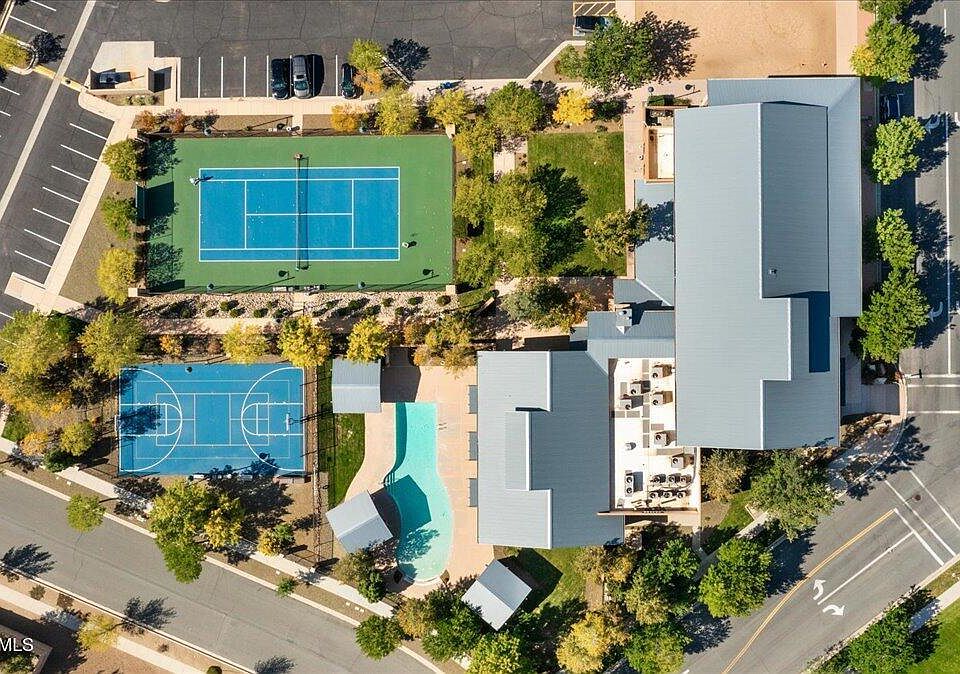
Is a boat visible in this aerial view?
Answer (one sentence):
No, there appears to be no boat in this shot.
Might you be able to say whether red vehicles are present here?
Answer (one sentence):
No, there isn't any red vehicle down there.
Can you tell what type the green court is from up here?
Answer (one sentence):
In the photo, the green court shows up as a tennis court.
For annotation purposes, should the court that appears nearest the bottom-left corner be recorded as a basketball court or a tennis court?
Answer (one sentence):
The court that appears nearest the bottom-left corner can be classified as a basketball court.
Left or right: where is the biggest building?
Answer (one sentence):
The biggest building appears in the right half of the scene.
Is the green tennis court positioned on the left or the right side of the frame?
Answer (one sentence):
The green tennis court sits on the left side.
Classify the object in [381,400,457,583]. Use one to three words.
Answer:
swimming pool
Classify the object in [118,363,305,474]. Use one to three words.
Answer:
basketball court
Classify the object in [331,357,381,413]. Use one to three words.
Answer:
building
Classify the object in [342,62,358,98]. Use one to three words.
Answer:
car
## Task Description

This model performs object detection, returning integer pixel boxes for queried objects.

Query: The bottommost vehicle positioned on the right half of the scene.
[881,87,902,126]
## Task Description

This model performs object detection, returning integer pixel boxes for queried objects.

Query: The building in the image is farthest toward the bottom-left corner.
[326,491,392,553]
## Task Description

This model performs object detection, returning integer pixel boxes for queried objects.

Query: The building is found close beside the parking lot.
[469,78,862,549]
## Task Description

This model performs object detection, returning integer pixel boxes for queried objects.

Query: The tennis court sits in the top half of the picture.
[145,135,453,292]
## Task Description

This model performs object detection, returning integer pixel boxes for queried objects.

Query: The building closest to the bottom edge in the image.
[462,558,532,630]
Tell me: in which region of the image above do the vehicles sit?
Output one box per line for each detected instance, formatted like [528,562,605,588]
[272,57,291,97]
[573,13,616,33]
[342,62,358,98]
[293,53,312,98]
[881,87,902,126]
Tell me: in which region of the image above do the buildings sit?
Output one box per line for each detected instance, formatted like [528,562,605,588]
[462,558,532,630]
[469,78,862,549]
[331,357,381,413]
[326,491,392,553]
